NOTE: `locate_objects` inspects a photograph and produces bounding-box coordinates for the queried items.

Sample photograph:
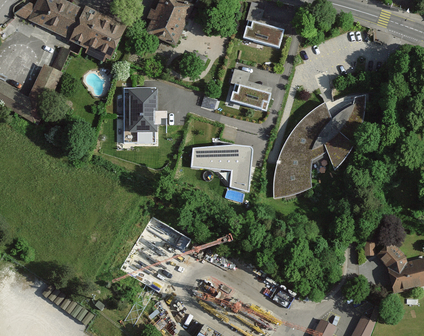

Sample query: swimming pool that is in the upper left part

[82,70,110,99]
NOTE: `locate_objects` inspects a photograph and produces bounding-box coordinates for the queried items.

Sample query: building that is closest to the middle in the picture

[190,144,252,192]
